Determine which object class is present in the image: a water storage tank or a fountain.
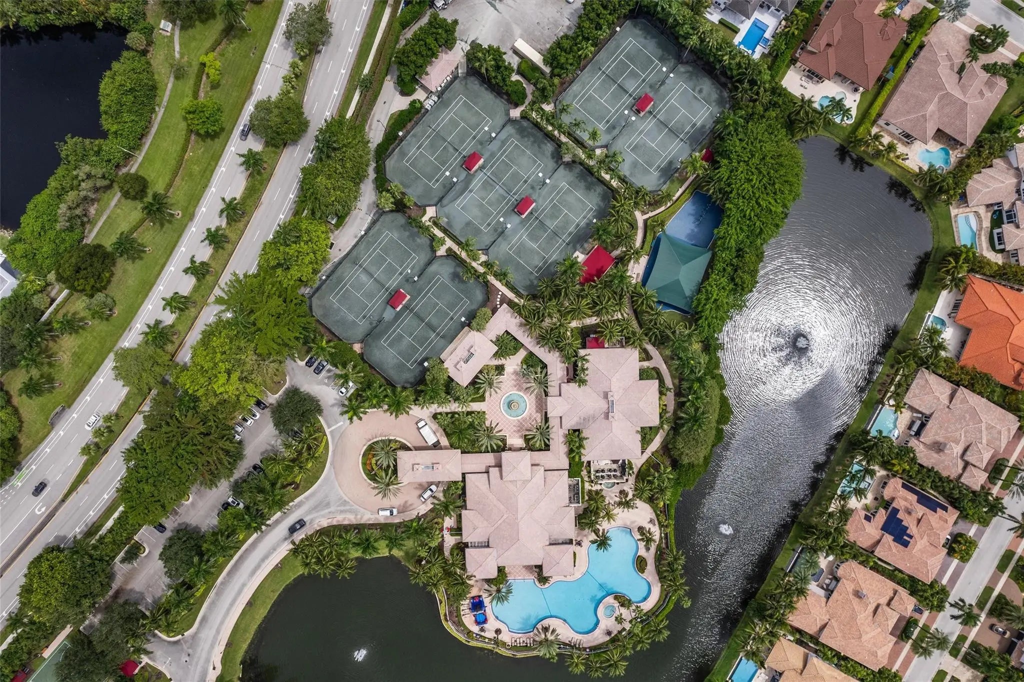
fountain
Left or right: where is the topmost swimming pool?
right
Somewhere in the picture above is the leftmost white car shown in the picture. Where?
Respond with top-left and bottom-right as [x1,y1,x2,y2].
[85,412,100,430]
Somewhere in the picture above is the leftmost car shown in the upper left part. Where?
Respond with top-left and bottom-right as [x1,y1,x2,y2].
[238,122,252,141]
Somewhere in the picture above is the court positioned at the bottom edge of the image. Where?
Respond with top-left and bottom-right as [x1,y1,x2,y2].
[25,641,102,682]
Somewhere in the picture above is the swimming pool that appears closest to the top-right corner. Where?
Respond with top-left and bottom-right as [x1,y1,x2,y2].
[917,145,953,171]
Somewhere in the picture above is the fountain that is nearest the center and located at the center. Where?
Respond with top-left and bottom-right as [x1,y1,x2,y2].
[501,392,527,419]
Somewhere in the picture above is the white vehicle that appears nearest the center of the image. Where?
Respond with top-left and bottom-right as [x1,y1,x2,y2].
[416,418,440,449]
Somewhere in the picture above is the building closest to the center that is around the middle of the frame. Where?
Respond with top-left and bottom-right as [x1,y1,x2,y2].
[441,327,497,387]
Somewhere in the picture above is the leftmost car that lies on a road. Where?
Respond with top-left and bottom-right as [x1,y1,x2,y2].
[31,479,47,497]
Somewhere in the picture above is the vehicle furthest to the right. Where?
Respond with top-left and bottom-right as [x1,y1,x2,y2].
[990,624,1008,638]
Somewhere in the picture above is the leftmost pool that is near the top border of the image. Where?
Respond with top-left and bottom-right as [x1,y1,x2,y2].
[736,15,771,52]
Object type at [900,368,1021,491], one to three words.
house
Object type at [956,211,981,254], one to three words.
swimming pool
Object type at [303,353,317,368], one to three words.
car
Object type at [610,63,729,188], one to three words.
tennis court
